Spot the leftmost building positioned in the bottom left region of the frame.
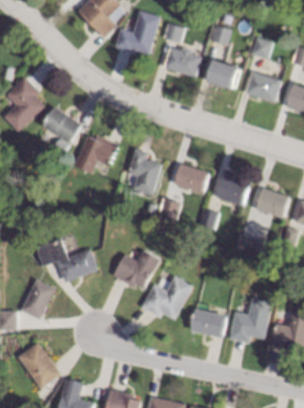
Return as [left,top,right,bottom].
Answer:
[0,312,20,330]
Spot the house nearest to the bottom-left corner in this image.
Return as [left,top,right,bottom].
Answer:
[19,343,59,389]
